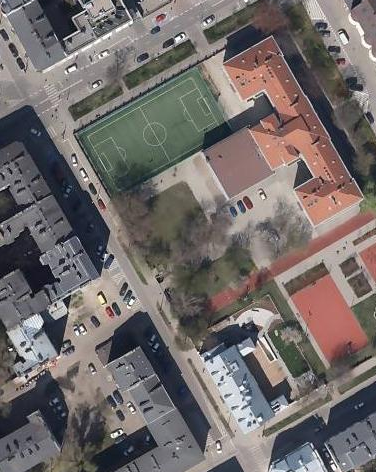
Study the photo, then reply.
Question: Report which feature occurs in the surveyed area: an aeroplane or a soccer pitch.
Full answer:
I can see a soccer pitch in this picture.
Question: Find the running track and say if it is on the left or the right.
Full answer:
The running track appears in the right half of the scene.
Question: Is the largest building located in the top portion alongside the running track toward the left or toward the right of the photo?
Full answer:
The largest building located in the top portion alongside the running track sits on the right side.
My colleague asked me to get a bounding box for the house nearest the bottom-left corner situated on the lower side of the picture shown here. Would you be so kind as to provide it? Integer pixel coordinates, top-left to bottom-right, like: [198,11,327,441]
[0,412,60,472]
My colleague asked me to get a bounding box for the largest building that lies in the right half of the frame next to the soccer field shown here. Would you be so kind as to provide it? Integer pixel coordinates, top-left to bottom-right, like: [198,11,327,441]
[223,33,366,229]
